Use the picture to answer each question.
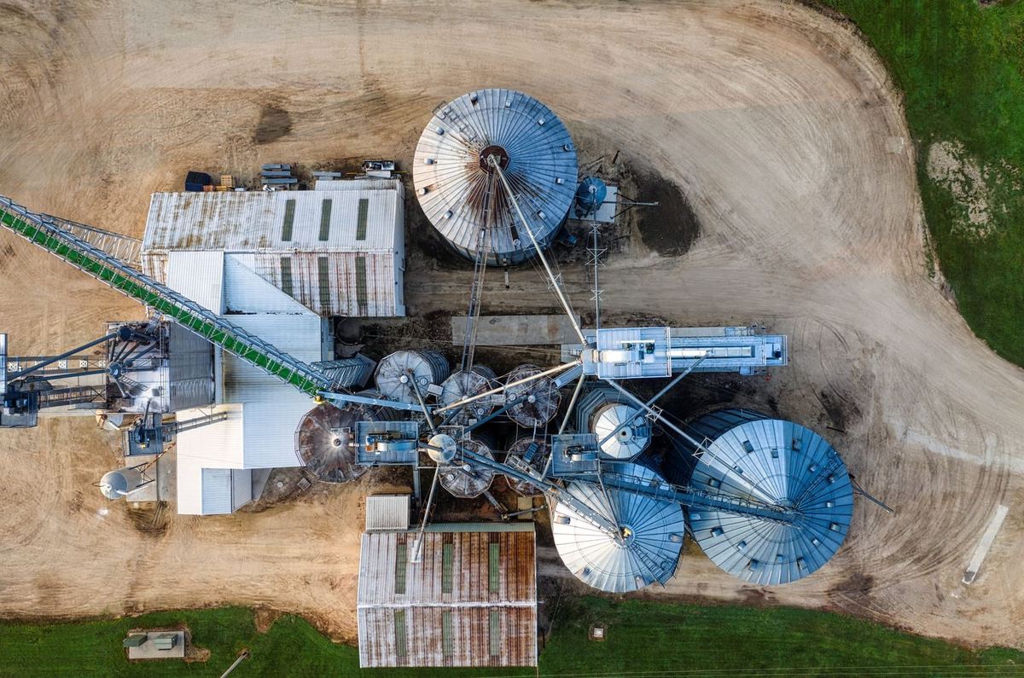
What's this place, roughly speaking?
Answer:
industrial area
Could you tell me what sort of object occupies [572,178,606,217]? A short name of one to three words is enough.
storage tank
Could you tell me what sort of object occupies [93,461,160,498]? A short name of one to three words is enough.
storage tank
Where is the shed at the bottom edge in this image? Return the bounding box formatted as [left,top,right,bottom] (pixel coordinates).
[356,520,544,668]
